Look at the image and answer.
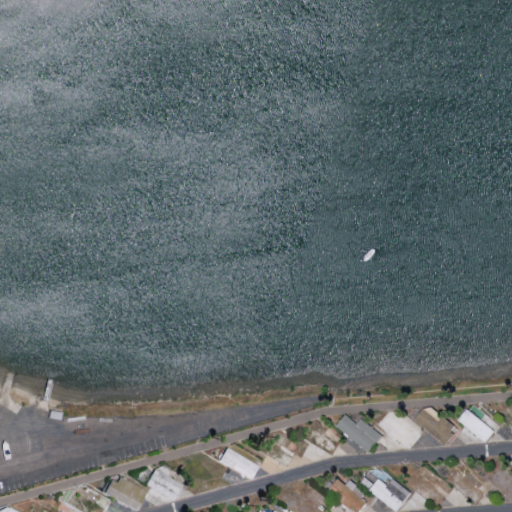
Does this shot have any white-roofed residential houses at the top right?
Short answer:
No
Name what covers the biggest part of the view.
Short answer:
water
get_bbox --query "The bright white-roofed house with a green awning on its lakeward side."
[458,406,494,443]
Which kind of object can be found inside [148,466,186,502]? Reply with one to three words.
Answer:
house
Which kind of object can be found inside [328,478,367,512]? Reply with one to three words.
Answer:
house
